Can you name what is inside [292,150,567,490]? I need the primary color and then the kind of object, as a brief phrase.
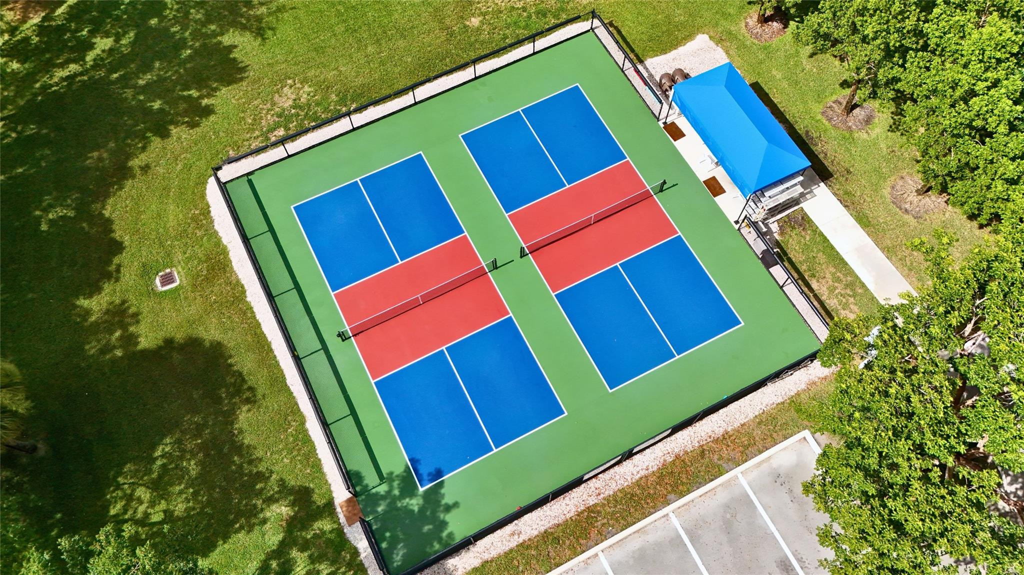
blue sports court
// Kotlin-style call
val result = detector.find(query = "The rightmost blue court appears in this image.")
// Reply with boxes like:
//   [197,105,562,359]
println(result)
[459,84,742,392]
